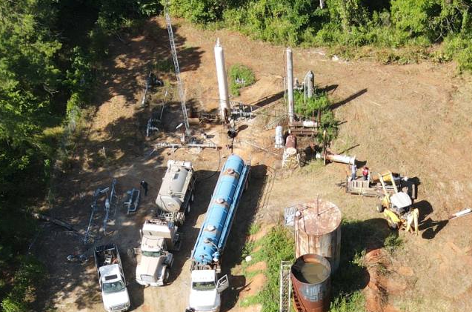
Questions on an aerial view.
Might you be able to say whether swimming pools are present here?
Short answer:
No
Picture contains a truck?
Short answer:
Yes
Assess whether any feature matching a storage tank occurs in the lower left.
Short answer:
No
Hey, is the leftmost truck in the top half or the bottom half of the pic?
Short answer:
bottom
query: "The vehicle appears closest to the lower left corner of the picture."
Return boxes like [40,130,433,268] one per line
[93,245,132,312]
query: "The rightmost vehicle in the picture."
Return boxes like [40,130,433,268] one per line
[374,177,429,238]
